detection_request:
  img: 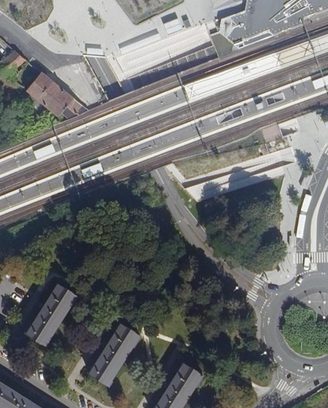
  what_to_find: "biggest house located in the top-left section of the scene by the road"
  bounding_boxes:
[26,72,75,117]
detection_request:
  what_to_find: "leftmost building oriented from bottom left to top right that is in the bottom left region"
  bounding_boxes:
[26,284,76,347]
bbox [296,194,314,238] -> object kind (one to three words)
vehicle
